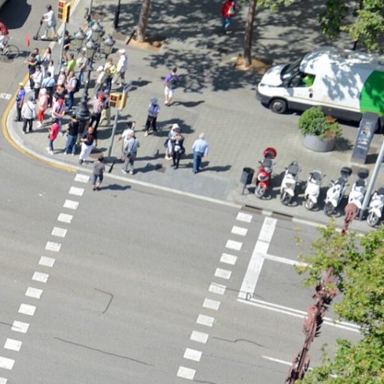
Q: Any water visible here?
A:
No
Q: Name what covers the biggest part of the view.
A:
paved ground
